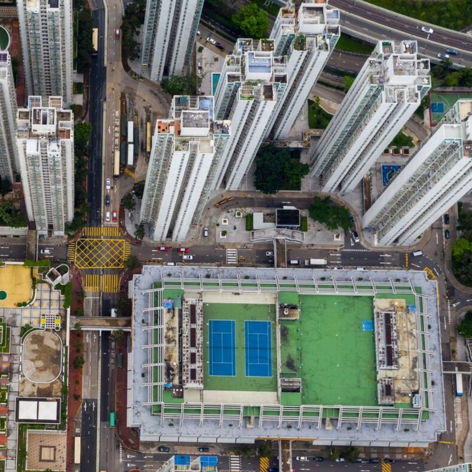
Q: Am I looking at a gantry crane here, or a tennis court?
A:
tennis court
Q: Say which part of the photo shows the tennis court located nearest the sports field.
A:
bottom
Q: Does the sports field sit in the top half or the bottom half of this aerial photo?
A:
bottom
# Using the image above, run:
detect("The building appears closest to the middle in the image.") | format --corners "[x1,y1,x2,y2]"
[252,206,300,230]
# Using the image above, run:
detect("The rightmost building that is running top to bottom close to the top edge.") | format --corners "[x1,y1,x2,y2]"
[260,0,341,153]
